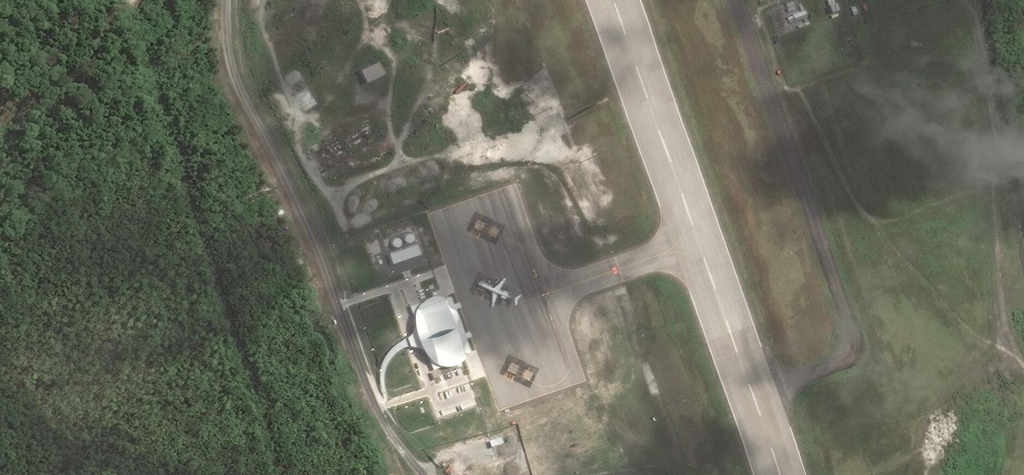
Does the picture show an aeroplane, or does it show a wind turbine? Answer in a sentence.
This aerial view contains an aeroplane.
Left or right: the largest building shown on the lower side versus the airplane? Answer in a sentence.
From the viewer's perspective, the largest building shown on the lower side falls to the left of the airplane.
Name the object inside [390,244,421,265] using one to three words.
building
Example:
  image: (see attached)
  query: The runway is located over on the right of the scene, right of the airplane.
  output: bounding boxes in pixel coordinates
[585,0,808,475]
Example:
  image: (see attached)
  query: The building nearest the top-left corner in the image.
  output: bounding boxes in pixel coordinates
[286,70,318,111]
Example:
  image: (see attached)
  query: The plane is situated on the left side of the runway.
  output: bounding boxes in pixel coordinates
[478,279,521,308]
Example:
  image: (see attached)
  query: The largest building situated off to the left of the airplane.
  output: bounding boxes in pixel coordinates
[413,297,472,368]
